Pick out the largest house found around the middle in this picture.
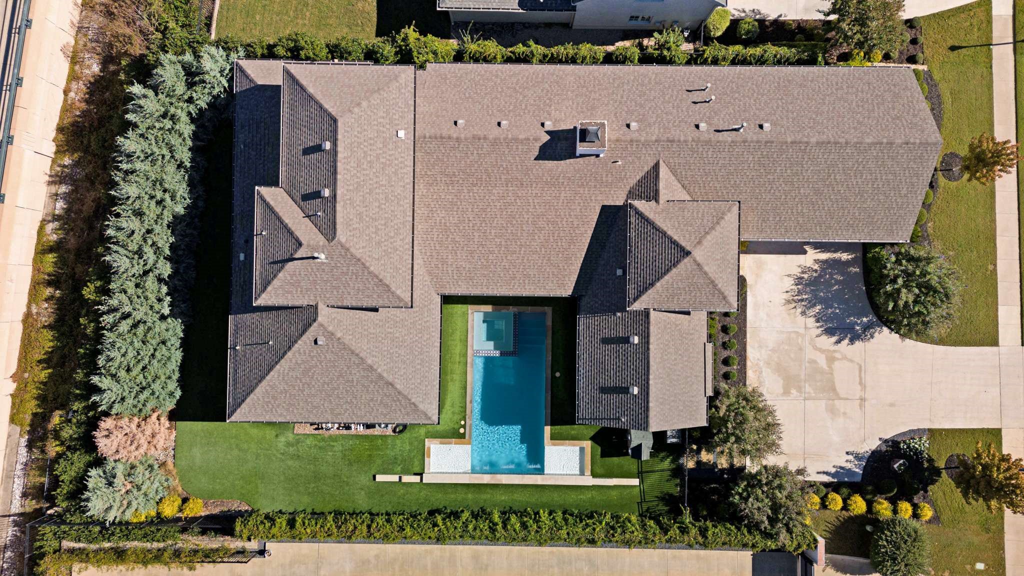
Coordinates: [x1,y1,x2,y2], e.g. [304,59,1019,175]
[225,57,942,431]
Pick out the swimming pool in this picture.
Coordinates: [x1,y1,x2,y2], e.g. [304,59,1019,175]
[425,306,591,474]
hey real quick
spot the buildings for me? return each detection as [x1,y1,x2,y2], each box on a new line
[436,0,724,29]
[225,57,942,431]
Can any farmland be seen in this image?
No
